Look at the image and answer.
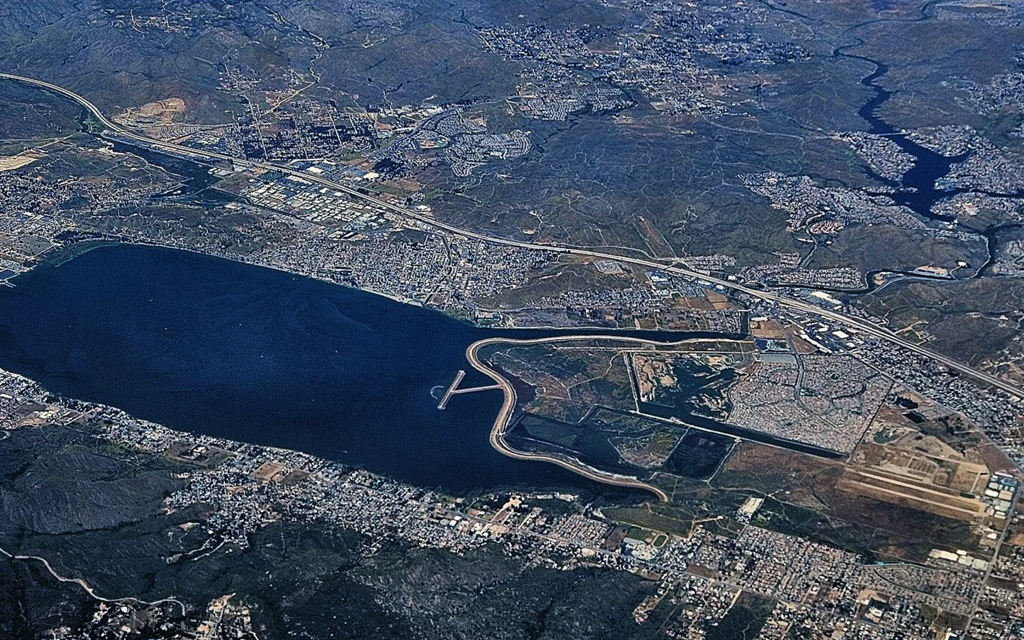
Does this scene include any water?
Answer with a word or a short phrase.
Yes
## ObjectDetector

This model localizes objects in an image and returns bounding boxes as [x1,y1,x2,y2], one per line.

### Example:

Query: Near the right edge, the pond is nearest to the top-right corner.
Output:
[859,64,1024,223]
